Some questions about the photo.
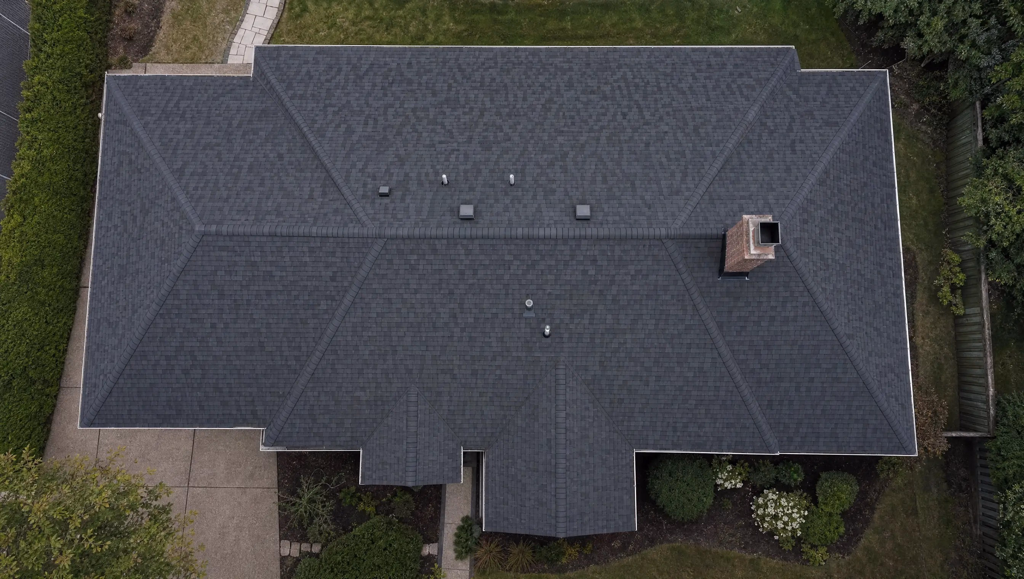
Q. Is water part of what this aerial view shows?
No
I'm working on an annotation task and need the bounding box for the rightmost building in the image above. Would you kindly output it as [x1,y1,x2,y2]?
[79,46,917,540]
